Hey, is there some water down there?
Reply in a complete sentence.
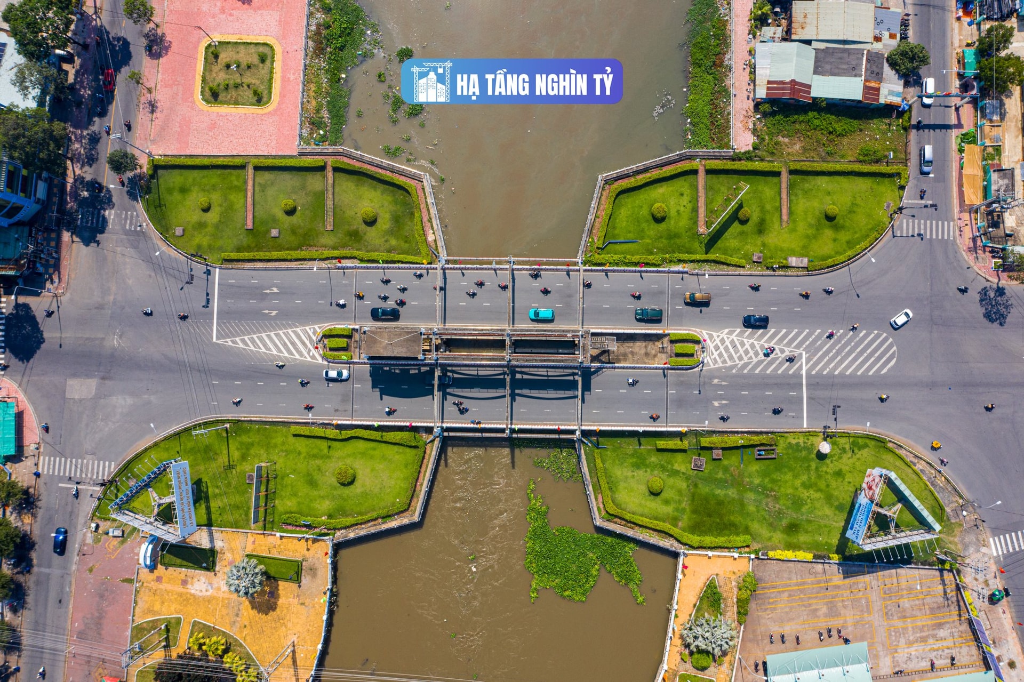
Yes, there's water in this view.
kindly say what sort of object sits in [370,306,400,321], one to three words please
car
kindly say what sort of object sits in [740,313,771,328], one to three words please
car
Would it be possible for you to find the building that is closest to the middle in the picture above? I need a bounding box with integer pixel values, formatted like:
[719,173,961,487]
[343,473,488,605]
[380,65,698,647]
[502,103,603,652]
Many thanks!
[361,329,435,358]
